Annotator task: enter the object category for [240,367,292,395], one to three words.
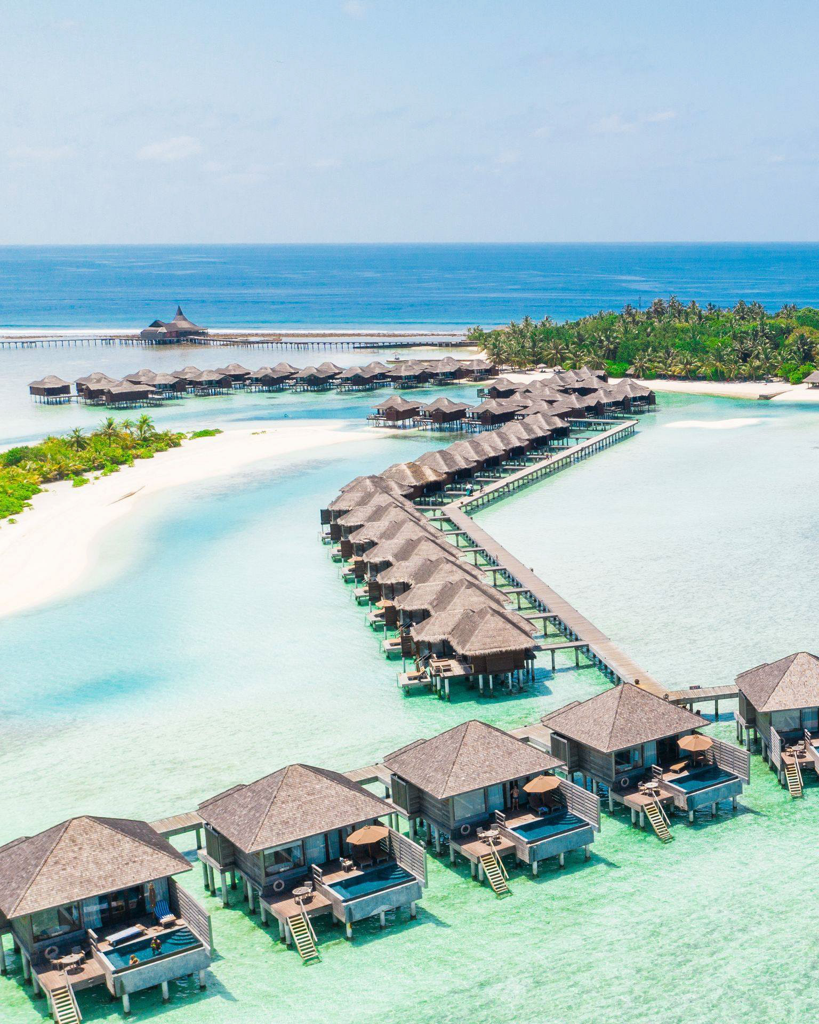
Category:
house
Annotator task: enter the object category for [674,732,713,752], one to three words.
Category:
umbrella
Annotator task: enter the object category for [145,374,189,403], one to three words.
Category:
house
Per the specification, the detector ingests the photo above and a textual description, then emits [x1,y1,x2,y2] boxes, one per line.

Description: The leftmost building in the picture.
[31,375,86,403]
